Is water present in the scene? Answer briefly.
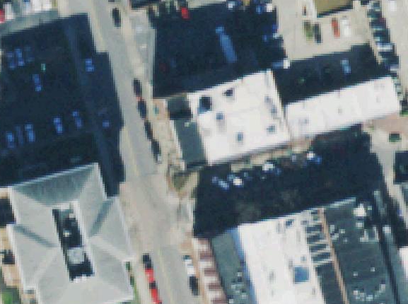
No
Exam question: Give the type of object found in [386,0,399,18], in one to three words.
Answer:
vehicle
